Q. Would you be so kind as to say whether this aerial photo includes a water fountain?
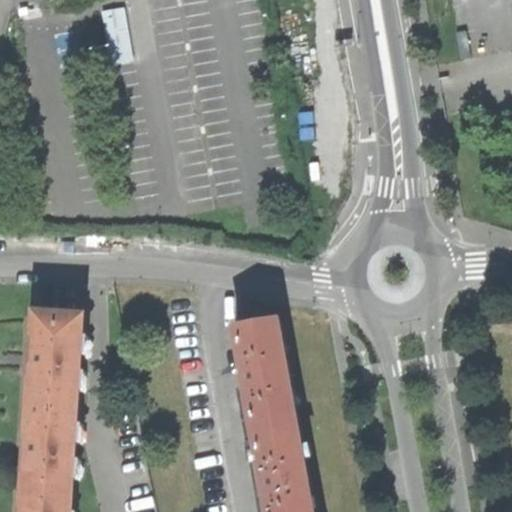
No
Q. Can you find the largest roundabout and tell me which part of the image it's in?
right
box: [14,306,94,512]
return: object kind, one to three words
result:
building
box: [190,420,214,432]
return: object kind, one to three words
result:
vehicle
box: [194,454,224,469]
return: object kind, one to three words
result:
vehicle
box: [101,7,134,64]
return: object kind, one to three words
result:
building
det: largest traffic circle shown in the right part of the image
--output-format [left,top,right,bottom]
[338,216,455,328]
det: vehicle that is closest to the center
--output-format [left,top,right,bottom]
[224,292,236,325]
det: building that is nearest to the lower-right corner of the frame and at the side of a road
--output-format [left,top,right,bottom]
[228,316,315,512]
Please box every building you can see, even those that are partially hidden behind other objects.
[456,30,470,60]
[228,316,315,512]
[14,306,94,512]
[101,7,134,64]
